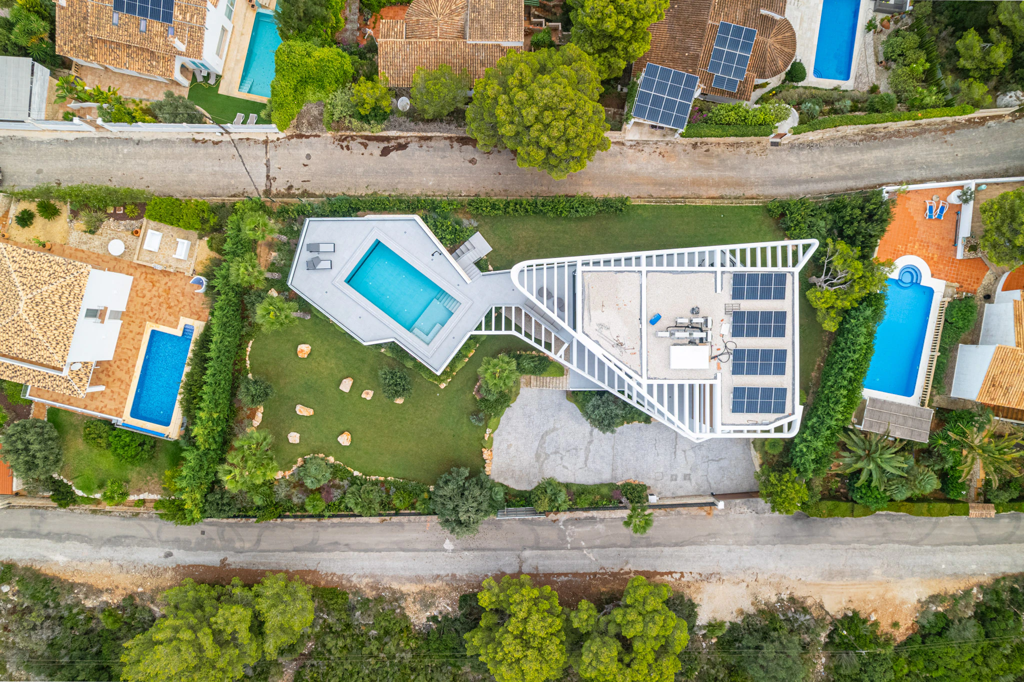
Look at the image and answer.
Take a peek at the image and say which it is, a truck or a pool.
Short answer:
pool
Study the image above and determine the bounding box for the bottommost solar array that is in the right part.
[730,386,787,413]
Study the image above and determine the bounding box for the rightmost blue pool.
[849,254,945,405]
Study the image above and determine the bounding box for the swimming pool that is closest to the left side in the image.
[123,317,207,439]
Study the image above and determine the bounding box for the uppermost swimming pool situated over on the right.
[808,0,866,87]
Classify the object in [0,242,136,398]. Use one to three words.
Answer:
house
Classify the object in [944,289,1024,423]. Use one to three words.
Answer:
house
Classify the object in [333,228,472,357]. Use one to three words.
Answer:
swimming pool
